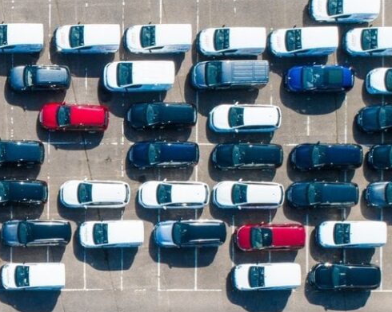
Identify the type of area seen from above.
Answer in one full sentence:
This image shows a parking lot.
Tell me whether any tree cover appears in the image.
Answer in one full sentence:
No, there's no tree cover in this view.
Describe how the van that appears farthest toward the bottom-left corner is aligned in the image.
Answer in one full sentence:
The van that appears farthest toward the bottom-left corner is oriented horizontally.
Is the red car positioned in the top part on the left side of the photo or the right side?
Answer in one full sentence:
You can find the red car positioned in the top part on the left side of the picture.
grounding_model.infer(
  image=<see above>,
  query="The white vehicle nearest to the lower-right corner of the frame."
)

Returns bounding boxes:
[315,216,387,251]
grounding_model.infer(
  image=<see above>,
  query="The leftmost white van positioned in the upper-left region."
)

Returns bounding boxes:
[0,23,44,55]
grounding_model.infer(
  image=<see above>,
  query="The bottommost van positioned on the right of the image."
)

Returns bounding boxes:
[230,261,301,295]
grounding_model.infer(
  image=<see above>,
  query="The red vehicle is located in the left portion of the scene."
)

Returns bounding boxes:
[40,99,110,134]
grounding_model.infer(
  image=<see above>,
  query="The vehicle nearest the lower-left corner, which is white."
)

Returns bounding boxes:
[1,261,66,293]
